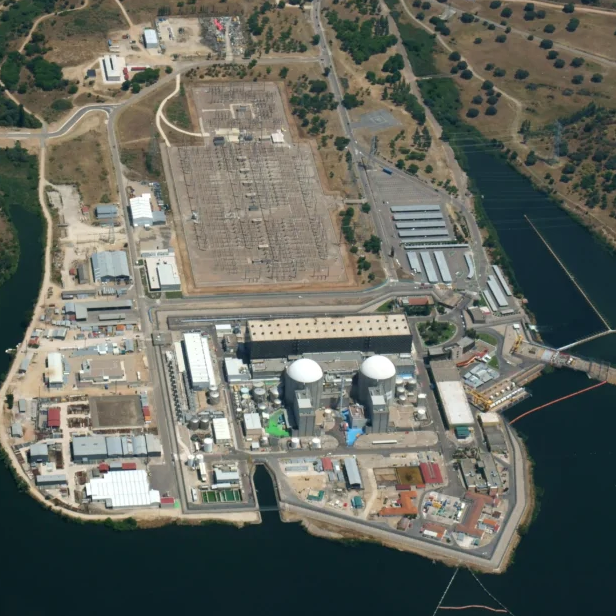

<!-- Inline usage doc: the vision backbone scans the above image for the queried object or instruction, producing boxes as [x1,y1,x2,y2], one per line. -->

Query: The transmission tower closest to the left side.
[101,210,119,245]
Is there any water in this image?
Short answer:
Yes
